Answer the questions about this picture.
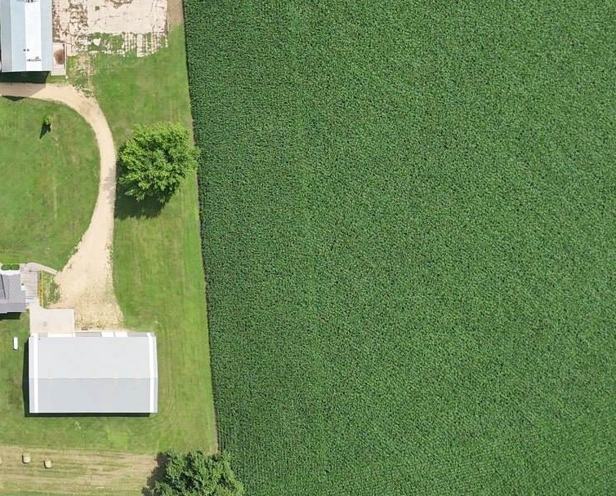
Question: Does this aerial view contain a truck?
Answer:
No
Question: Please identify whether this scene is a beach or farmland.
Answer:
farmland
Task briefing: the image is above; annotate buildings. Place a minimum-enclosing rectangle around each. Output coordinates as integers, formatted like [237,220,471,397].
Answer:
[0,0,53,72]
[0,266,26,313]
[29,332,159,413]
